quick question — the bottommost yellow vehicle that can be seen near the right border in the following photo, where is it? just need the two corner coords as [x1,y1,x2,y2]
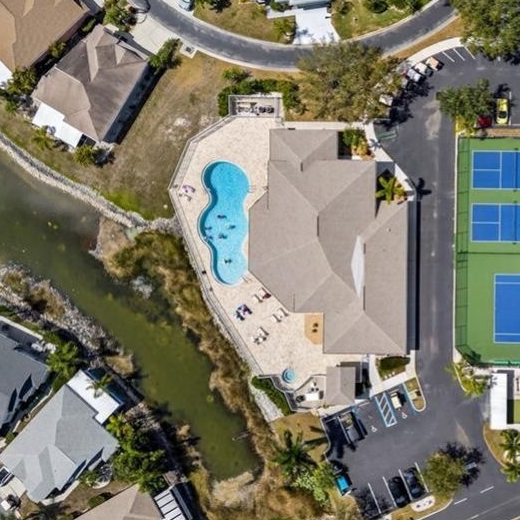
[495,98,509,126]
